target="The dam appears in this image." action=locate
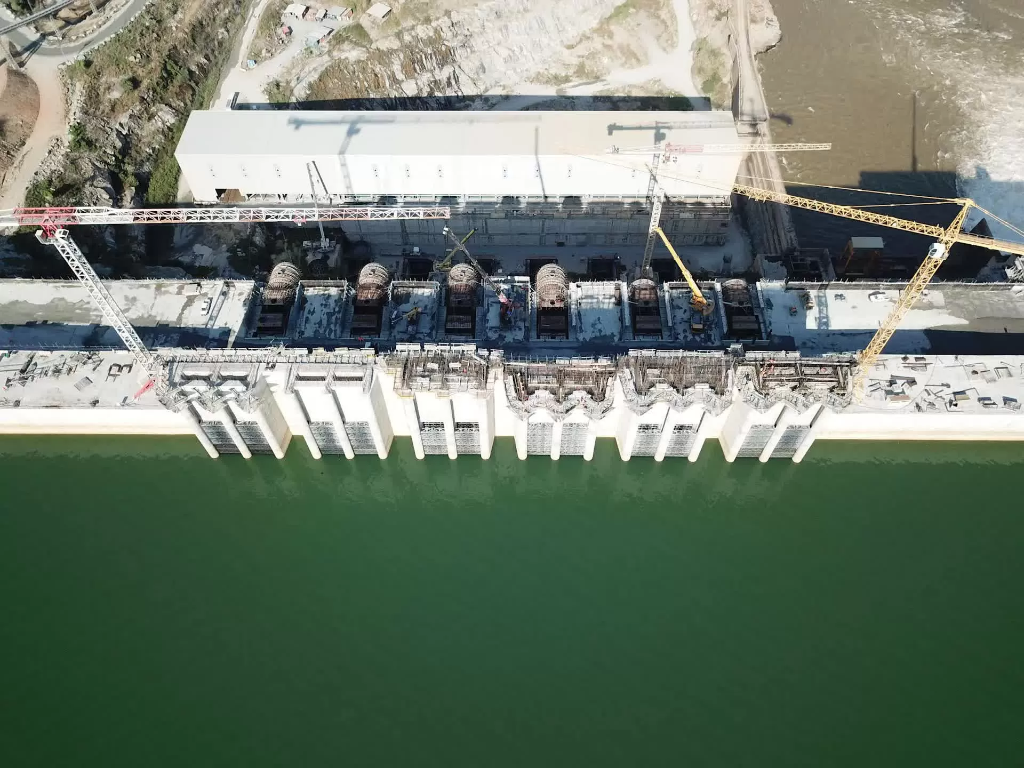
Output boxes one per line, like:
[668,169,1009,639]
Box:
[0,272,1024,441]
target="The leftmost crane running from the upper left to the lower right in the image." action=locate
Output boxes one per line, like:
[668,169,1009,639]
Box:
[442,226,529,324]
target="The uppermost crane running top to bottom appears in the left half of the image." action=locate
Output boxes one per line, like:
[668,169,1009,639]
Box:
[307,160,333,250]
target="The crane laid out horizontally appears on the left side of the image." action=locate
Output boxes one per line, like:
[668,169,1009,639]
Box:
[0,207,452,383]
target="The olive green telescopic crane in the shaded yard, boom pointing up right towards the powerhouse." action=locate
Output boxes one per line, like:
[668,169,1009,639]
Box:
[435,229,481,270]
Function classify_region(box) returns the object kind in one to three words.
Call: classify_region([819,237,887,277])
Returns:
container crane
